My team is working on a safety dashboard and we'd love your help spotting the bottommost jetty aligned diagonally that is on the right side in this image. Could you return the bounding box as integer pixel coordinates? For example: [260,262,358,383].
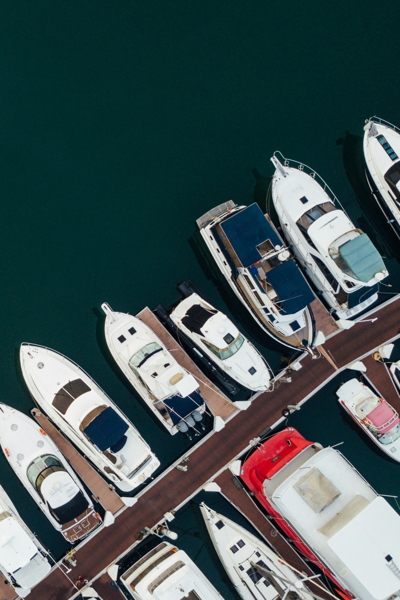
[206,460,333,600]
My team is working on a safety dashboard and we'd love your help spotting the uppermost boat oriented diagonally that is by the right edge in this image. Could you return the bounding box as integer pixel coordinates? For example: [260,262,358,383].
[266,151,392,320]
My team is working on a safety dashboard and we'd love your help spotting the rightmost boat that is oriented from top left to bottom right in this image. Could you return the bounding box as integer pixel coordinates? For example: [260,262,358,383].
[335,378,400,462]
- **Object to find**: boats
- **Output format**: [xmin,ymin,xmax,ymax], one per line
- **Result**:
[195,200,318,361]
[0,487,79,600]
[356,116,400,248]
[266,151,392,320]
[0,402,103,544]
[119,541,222,600]
[100,302,238,441]
[199,501,360,600]
[335,378,400,462]
[238,427,400,600]
[169,293,276,393]
[19,342,160,485]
